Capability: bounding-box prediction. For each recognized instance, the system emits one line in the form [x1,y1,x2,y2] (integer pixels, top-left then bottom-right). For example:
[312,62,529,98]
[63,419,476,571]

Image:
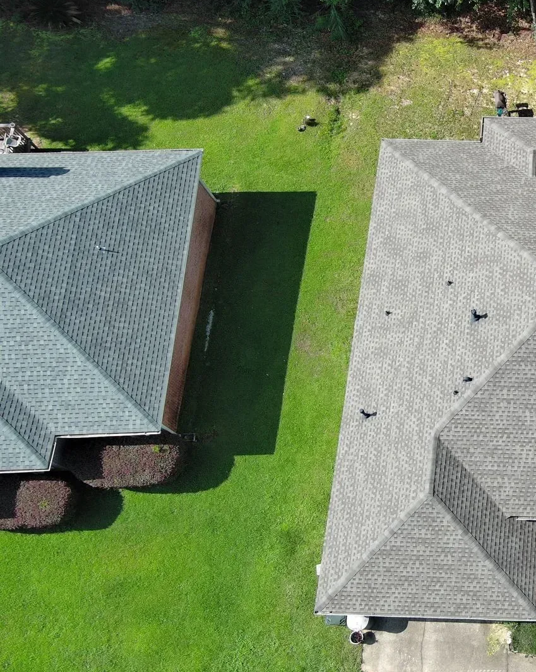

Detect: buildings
[0,148,230,474]
[315,115,536,625]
